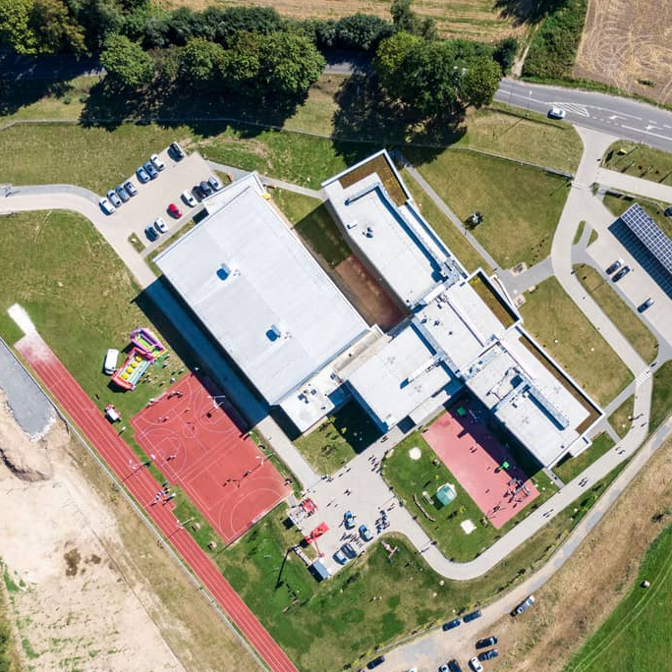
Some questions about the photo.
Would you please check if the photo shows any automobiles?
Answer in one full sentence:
Yes, this view includes an automobile.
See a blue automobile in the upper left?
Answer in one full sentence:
Yes, I can see a blue automobile in the upper left.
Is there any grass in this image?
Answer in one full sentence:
Yes, some grass is visible.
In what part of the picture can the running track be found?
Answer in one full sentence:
Look in the bottom left portion of the view to spot the running track.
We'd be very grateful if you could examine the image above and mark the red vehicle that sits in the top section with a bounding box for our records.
[167,203,183,219]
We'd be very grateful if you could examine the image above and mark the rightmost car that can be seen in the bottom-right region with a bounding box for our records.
[512,597,533,616]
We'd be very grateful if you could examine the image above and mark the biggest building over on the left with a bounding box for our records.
[153,171,373,405]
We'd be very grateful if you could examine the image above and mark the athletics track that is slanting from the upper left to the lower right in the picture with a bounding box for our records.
[15,333,299,672]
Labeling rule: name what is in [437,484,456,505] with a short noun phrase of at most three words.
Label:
gazebo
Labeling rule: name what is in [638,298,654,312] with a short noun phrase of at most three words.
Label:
car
